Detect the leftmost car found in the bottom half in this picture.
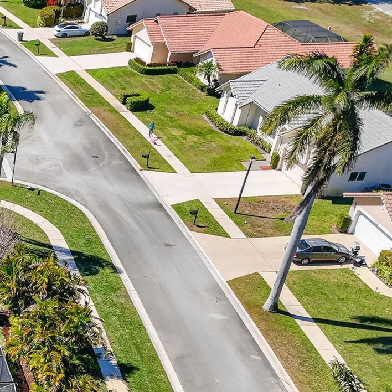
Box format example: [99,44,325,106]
[295,233,353,264]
